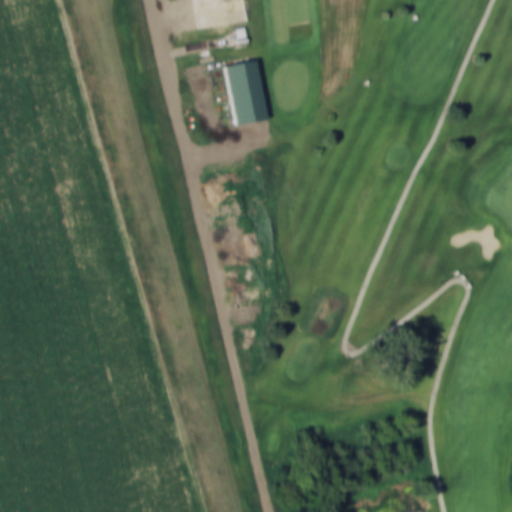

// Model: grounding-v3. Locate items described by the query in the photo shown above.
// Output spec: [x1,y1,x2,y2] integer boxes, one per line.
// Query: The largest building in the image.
[224,61,269,125]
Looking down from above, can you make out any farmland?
Yes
